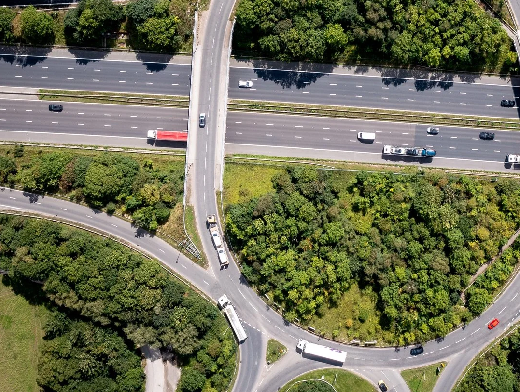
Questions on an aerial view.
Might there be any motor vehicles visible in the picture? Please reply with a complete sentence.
Yes, the image includes a motor vehicle.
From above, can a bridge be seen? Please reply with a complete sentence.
Yes, a bridge can be made out from above.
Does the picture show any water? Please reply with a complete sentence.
No, there is no water in the image.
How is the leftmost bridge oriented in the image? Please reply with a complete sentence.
The leftmost bridge is oriented up and down.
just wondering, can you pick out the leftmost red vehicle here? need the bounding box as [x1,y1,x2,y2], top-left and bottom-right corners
[149,129,187,142]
